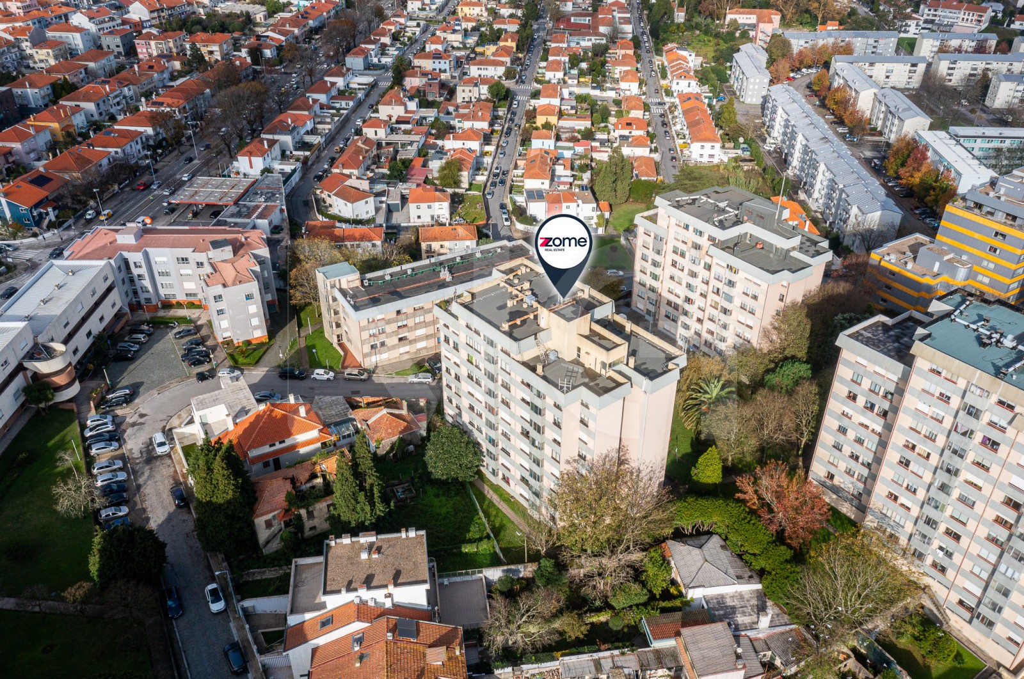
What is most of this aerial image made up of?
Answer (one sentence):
The largest share of the image is taken up by buildings.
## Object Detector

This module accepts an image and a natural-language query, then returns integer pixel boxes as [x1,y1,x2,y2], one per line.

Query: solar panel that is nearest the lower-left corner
[397,621,418,638]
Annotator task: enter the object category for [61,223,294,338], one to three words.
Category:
building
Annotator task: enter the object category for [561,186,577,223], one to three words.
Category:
house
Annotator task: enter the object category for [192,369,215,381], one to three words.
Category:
vehicle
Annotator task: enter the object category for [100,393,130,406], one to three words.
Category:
vehicle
